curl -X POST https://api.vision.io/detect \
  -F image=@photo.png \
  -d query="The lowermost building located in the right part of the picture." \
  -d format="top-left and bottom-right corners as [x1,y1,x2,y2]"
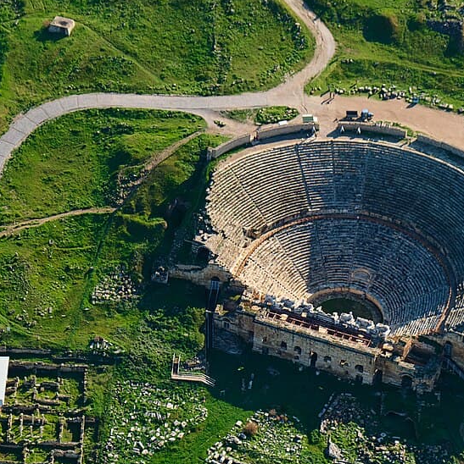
[214,296,441,394]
